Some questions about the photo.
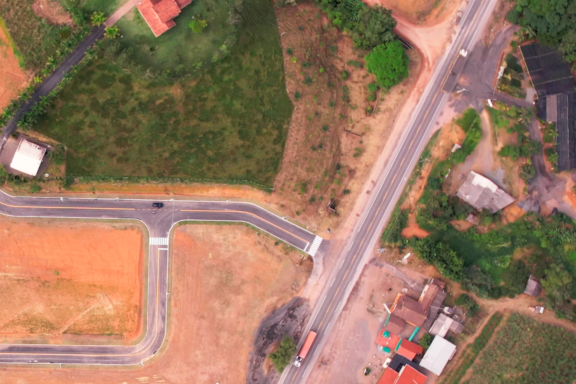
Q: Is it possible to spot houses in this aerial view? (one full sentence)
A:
Yes, there is a house in the image.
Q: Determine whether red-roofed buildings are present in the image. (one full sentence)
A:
Yes, this view includes a red-roofed building.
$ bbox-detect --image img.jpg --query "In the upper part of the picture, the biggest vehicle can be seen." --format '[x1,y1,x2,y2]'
[441,50,467,93]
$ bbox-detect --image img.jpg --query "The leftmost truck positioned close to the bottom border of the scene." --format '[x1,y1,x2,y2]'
[292,330,316,367]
